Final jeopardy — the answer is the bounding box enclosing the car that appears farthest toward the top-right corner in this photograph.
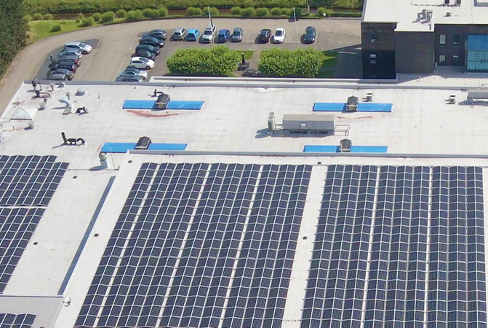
[303,27,317,43]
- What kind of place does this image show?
industrial area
